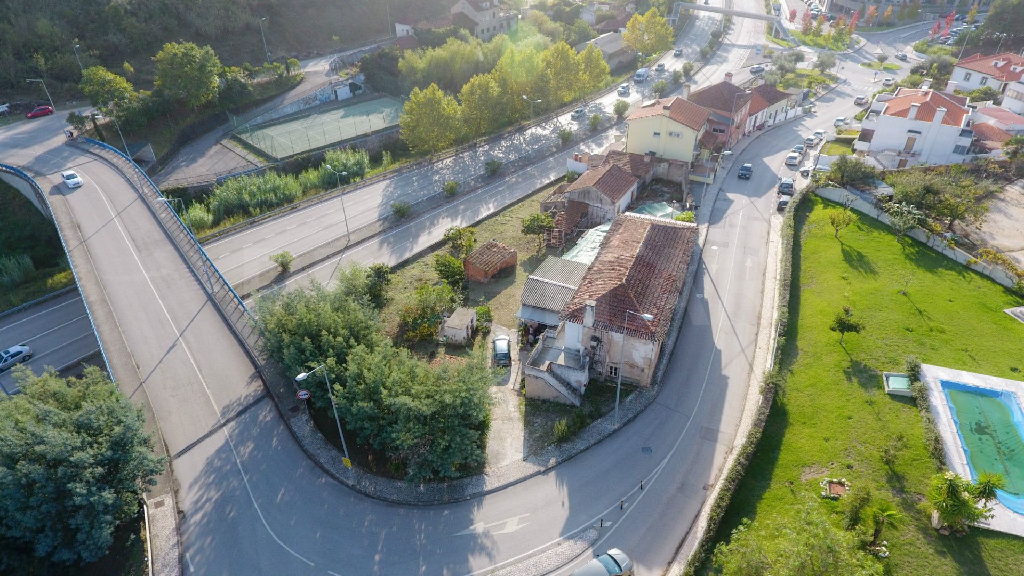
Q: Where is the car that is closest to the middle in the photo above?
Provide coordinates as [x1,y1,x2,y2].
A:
[490,336,510,363]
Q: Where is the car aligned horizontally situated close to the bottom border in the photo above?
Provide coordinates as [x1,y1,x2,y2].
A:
[570,546,636,576]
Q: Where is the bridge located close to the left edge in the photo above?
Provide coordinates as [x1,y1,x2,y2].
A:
[0,120,263,392]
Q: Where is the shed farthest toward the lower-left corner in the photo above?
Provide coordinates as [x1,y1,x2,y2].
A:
[440,307,475,338]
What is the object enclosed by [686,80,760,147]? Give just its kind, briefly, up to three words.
house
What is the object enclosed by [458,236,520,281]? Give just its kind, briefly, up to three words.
building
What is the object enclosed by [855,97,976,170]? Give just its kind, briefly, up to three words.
house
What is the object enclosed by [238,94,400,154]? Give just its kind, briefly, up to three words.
sports court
